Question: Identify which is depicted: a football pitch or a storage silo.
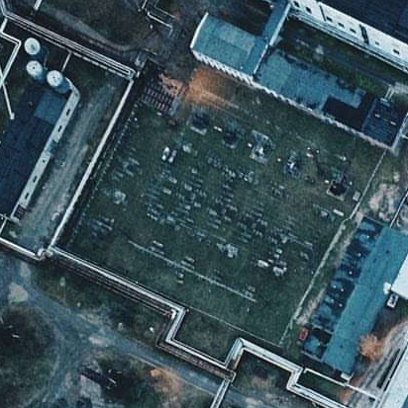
storage silo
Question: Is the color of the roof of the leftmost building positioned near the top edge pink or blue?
blue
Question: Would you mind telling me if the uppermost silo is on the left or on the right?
left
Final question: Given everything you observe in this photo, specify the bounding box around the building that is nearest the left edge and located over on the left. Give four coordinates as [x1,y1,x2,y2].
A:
[0,90,73,218]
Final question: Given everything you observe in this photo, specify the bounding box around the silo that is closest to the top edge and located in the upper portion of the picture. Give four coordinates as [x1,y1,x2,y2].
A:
[24,38,51,65]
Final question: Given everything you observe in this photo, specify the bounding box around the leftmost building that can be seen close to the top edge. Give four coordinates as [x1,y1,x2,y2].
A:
[192,14,258,79]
